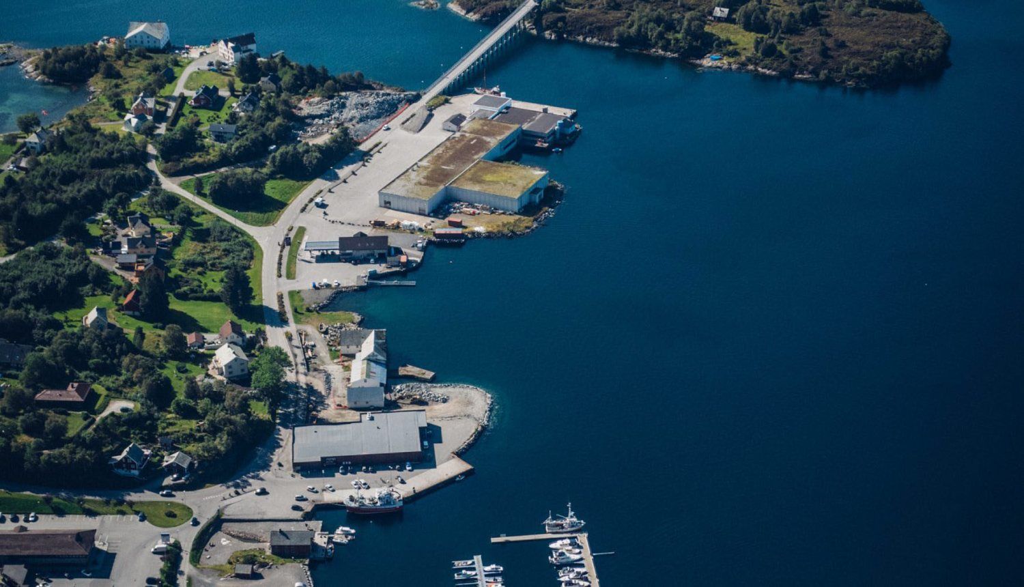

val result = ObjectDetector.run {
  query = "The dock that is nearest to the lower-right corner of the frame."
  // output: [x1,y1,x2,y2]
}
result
[556,536,616,587]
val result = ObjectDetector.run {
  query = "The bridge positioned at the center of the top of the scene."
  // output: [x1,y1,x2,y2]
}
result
[418,0,537,105]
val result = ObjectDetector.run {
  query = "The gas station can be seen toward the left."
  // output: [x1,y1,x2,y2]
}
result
[337,230,391,261]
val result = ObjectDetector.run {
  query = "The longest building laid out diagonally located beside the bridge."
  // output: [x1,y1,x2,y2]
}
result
[378,118,522,215]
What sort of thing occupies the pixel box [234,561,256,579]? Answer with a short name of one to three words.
shed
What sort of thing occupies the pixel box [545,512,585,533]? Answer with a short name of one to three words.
boat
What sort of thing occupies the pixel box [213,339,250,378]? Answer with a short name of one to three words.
house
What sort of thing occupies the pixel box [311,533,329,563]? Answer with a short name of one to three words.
pier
